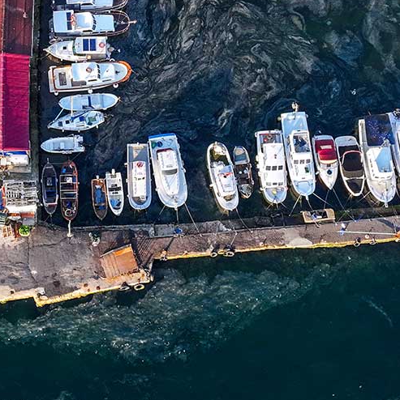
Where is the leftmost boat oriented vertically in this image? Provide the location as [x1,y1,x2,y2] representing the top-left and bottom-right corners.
[41,162,59,214]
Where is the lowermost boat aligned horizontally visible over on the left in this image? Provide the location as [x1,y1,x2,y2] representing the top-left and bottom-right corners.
[42,135,87,153]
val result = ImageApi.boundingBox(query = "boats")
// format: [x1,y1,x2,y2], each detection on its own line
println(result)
[91,176,108,221]
[43,36,119,62]
[312,133,337,190]
[49,98,109,134]
[149,130,188,209]
[42,135,87,153]
[386,107,400,183]
[333,136,363,196]
[207,141,238,212]
[45,60,134,94]
[354,114,397,205]
[106,169,125,216]
[41,162,59,214]
[58,92,121,109]
[275,105,317,196]
[252,131,288,205]
[233,146,253,198]
[124,145,153,210]
[50,9,138,38]
[54,0,127,10]
[60,161,79,221]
